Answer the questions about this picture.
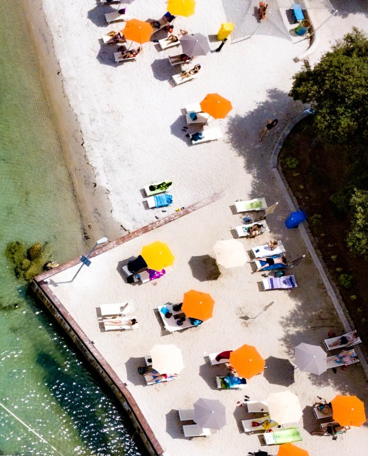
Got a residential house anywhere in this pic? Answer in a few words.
No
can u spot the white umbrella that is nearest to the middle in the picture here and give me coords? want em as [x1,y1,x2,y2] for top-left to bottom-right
[211,240,246,273]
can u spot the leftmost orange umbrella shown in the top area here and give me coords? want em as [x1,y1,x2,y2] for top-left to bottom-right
[120,22,153,51]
